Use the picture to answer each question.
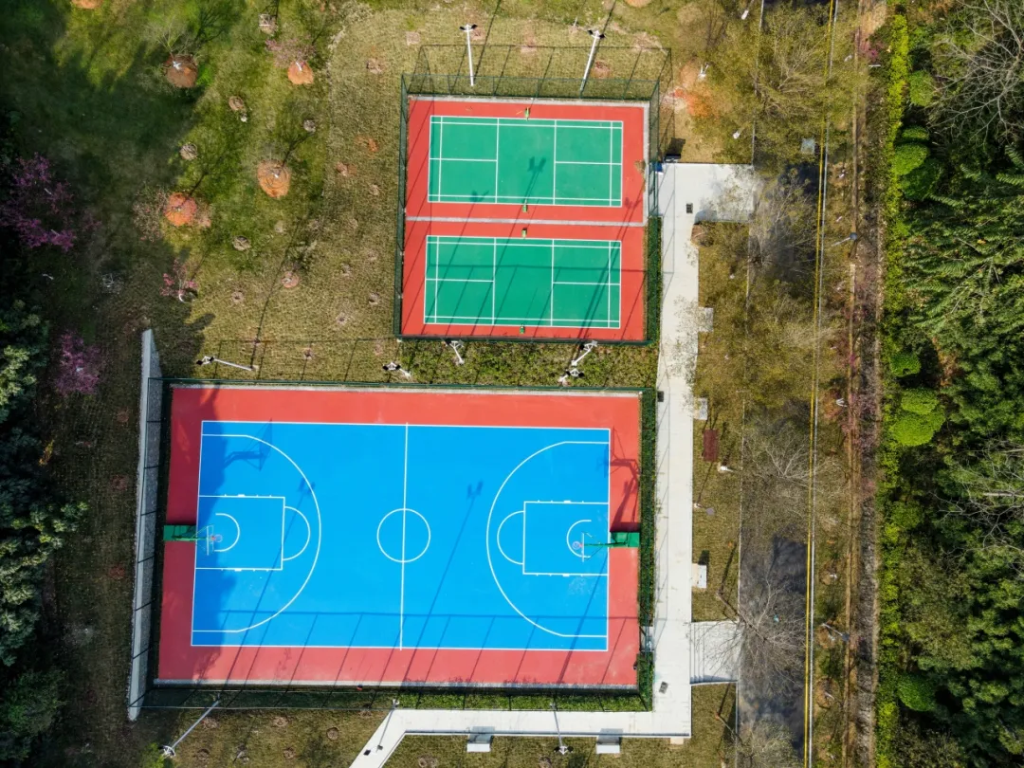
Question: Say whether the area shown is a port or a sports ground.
sports ground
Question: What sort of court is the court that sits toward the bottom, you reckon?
basketball court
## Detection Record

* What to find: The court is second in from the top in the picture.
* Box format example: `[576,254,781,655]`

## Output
[402,224,649,346]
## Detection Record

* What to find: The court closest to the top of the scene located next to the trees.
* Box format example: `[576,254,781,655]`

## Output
[403,93,652,230]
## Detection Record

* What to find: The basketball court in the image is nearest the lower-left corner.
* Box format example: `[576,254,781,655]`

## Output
[155,383,641,692]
